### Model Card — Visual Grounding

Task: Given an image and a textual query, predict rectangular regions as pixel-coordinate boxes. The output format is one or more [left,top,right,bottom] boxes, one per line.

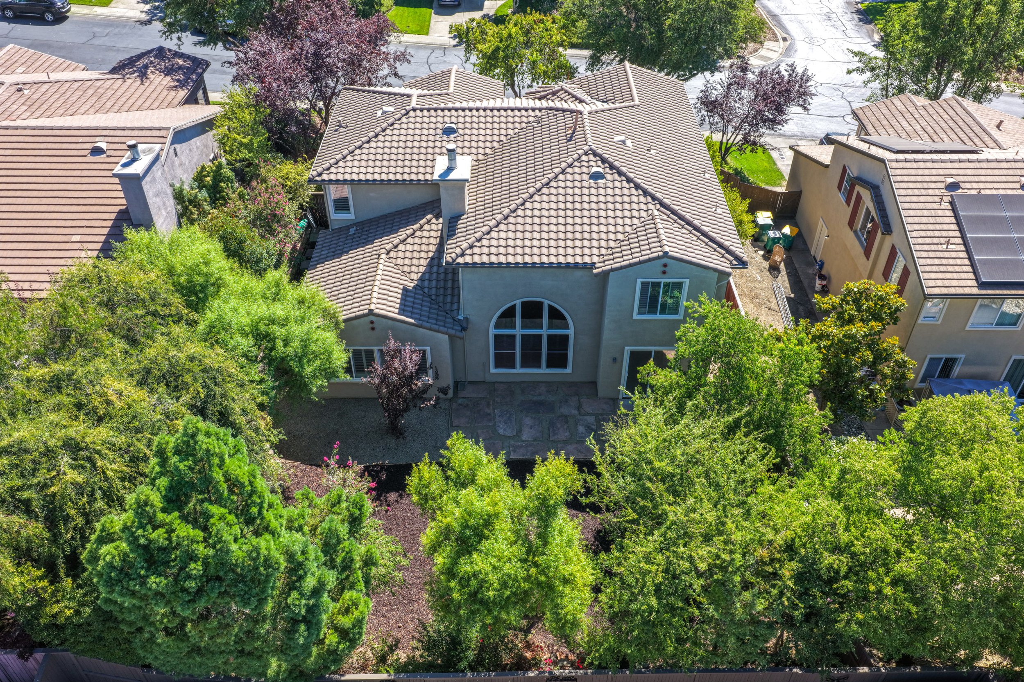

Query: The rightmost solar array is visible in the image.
[951,194,1024,287]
